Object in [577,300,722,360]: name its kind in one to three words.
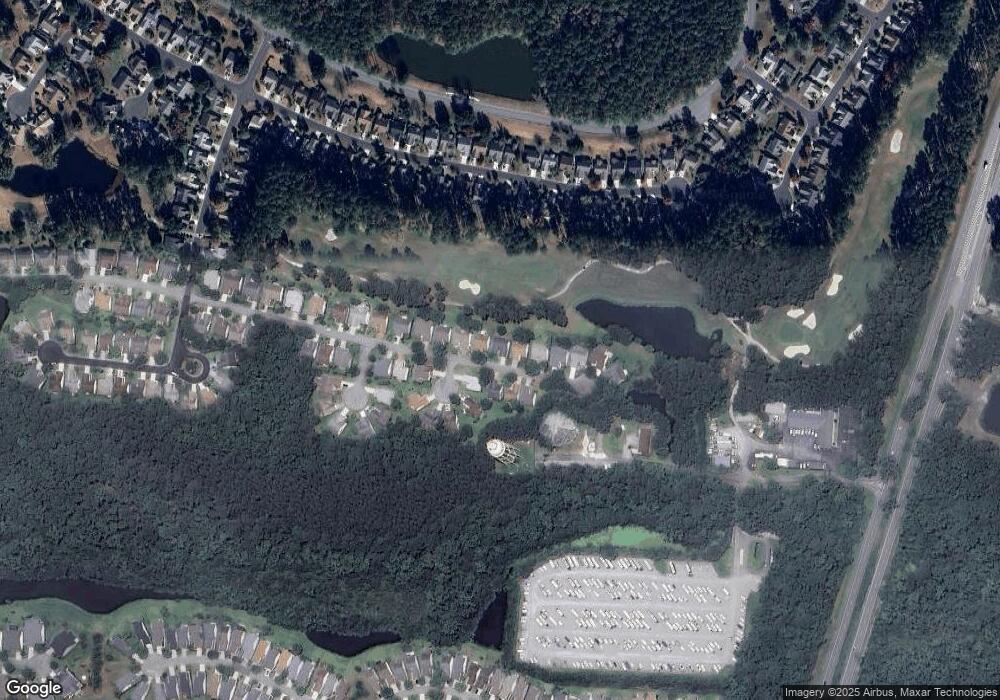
pond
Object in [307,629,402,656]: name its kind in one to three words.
pond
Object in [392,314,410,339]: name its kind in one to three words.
house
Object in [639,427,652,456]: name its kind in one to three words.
building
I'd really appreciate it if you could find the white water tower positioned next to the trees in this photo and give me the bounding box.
[487,438,521,467]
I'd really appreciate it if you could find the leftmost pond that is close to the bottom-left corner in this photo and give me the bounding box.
[0,579,194,614]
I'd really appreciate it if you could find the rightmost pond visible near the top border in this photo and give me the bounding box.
[379,34,537,99]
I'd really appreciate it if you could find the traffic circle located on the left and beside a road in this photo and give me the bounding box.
[176,353,210,385]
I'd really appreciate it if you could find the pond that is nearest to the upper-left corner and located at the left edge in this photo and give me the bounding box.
[4,138,118,198]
